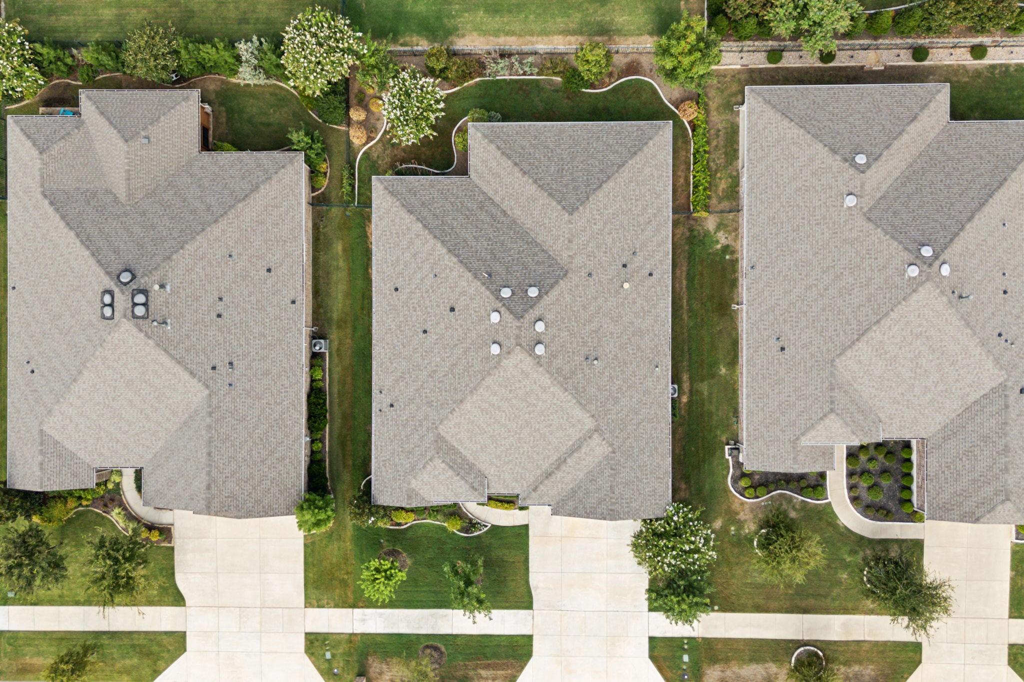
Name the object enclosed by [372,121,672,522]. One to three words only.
house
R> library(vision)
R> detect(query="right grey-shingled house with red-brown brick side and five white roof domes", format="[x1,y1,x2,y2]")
[733,85,1024,526]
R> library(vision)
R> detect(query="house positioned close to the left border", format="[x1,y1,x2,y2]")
[7,90,317,519]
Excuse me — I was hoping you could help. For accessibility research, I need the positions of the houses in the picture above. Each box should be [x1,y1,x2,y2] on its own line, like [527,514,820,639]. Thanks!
[733,85,1024,526]
[7,90,317,519]
[372,121,672,522]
